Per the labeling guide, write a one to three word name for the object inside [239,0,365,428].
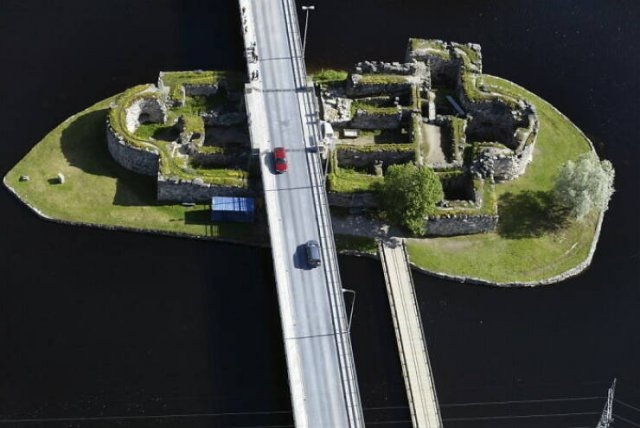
bridge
